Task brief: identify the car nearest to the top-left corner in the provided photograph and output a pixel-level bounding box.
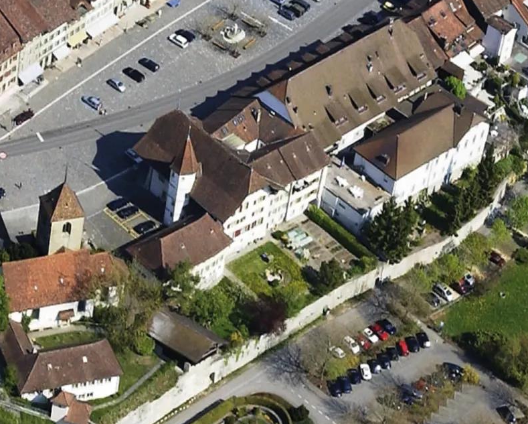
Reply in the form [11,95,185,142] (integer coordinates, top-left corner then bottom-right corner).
[12,110,34,124]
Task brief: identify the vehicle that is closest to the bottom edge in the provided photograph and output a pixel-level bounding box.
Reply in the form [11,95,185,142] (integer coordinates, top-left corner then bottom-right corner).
[496,406,518,424]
